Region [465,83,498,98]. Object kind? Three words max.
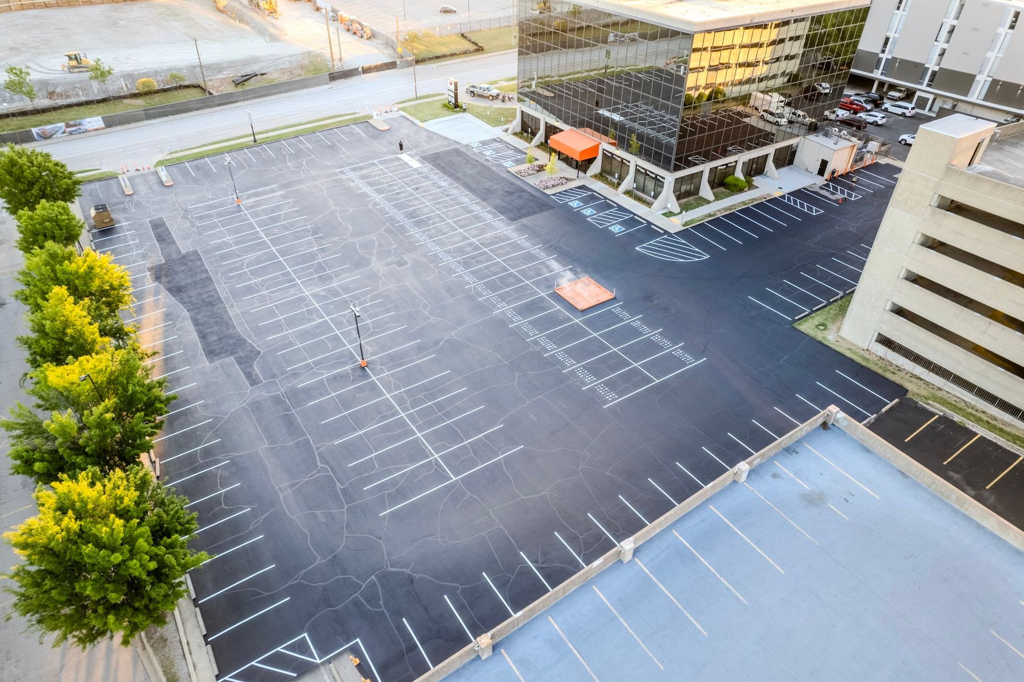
vehicle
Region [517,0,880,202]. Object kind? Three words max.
building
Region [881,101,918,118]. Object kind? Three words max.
car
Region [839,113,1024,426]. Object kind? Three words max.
building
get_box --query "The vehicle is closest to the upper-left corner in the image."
[61,53,92,74]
